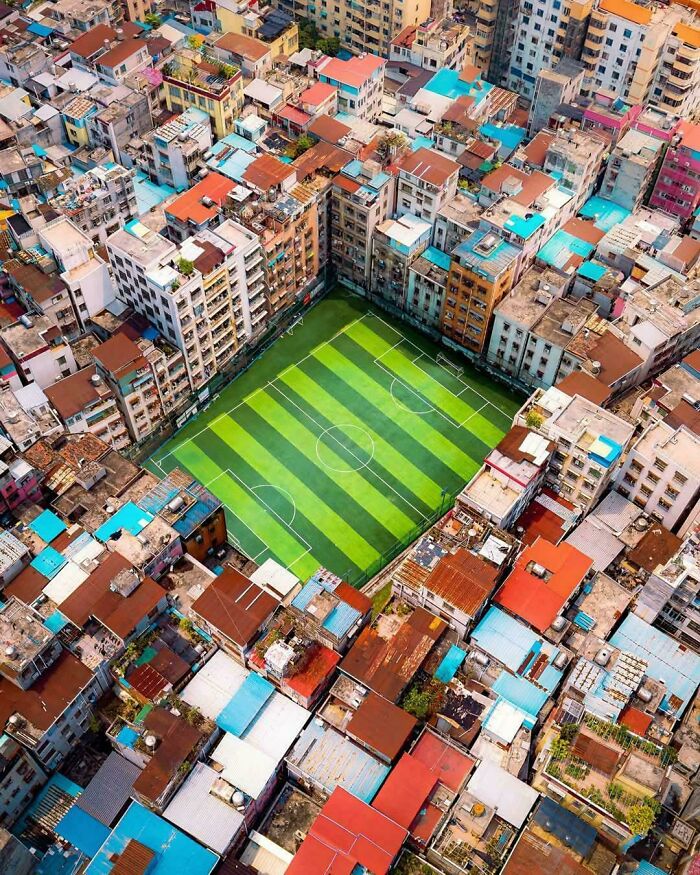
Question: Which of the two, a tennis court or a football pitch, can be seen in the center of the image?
football pitch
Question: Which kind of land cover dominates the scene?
buildings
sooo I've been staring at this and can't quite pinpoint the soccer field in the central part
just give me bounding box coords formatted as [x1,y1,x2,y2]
[123,285,520,592]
